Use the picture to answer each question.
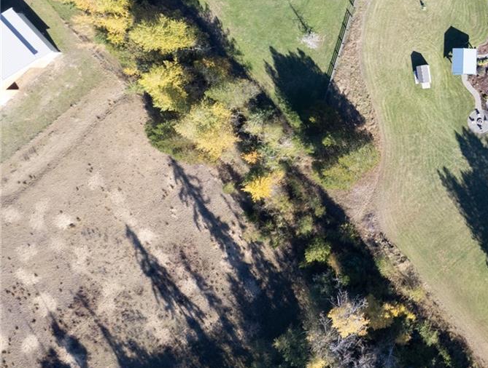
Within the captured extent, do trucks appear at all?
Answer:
No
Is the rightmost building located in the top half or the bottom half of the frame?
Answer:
top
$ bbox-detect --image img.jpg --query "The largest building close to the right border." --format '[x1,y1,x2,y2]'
[453,48,477,74]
